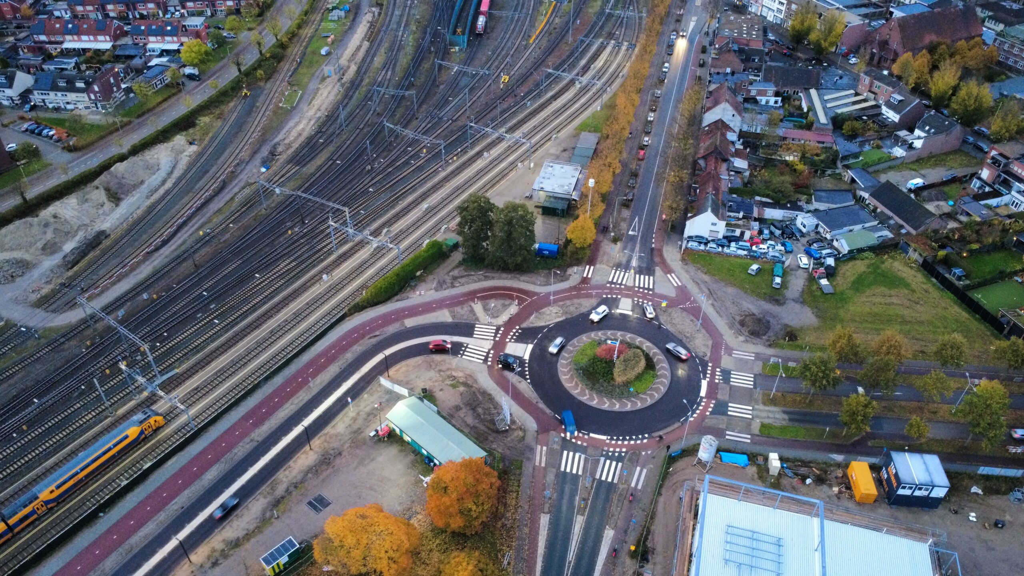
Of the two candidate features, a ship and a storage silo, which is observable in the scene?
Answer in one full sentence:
It is a storage silo that can be seen here.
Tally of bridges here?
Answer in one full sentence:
The count of bridges is 0.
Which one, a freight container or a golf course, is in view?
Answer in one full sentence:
I can see a freight container in this picture.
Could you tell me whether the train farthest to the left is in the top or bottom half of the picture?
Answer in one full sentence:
The train farthest to the left sits in the bottom half of the picture.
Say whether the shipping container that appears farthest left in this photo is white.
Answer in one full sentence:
No, the color of the shipping container that appears farthest left is orange.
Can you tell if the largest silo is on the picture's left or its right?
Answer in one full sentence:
You can find the largest silo on the right side of the picture.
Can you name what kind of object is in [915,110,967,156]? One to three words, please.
house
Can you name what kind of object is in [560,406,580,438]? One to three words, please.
vehicle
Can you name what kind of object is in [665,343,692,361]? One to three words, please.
car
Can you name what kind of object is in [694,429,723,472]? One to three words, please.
silo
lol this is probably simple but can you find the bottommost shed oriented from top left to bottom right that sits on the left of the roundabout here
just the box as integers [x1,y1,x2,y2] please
[384,395,490,480]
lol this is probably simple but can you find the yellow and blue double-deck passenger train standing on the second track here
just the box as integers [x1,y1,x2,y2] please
[0,410,163,540]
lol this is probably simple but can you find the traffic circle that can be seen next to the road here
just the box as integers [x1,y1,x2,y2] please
[498,297,708,440]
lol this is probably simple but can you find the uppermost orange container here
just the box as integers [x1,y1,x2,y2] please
[843,462,878,504]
